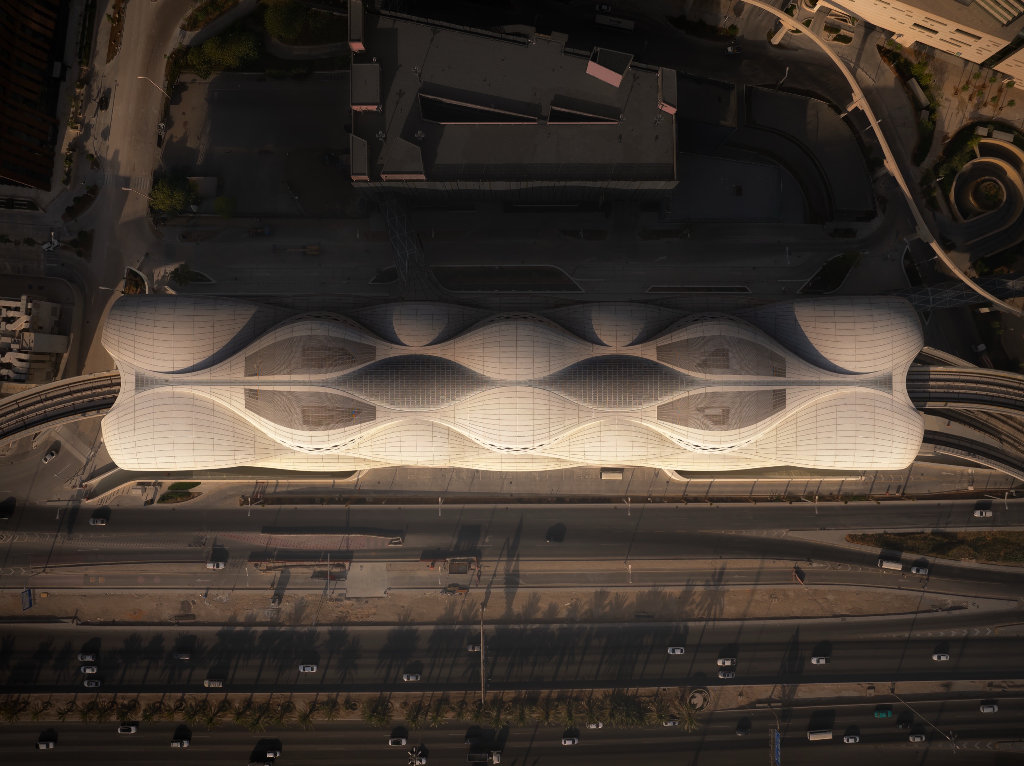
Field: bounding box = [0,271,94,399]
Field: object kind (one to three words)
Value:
building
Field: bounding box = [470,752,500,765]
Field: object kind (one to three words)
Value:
vehicle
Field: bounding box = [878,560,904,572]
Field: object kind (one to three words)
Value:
vehicle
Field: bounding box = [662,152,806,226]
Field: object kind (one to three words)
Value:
building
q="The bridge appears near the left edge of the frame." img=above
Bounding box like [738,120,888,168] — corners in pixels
[0,369,123,447]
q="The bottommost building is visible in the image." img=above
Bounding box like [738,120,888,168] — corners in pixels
[448,561,471,575]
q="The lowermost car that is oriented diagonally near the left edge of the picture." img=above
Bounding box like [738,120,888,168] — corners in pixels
[43,449,57,465]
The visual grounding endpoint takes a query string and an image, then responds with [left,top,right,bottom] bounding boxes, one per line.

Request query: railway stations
[102,268,924,472]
